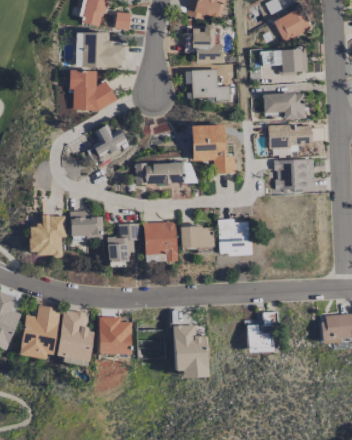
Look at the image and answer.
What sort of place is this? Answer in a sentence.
This looks like a residential area.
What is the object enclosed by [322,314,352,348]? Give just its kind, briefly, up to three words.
house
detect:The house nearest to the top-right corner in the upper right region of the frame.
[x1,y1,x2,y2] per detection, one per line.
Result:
[276,9,310,40]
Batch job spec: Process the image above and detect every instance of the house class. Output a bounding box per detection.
[218,220,252,256]
[58,308,92,367]
[189,0,225,18]
[274,160,314,191]
[268,124,313,157]
[0,288,23,346]
[144,222,178,262]
[116,12,130,30]
[322,314,352,348]
[76,32,126,69]
[70,70,117,111]
[193,25,222,63]
[78,0,108,26]
[244,319,274,352]
[276,9,310,40]
[173,322,210,378]
[181,226,215,254]
[96,124,132,156]
[108,224,139,268]
[192,125,236,174]
[261,47,308,74]
[70,210,104,244]
[264,93,305,118]
[98,317,132,356]
[136,162,186,184]
[20,306,61,360]
[30,215,65,258]
[186,70,230,101]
